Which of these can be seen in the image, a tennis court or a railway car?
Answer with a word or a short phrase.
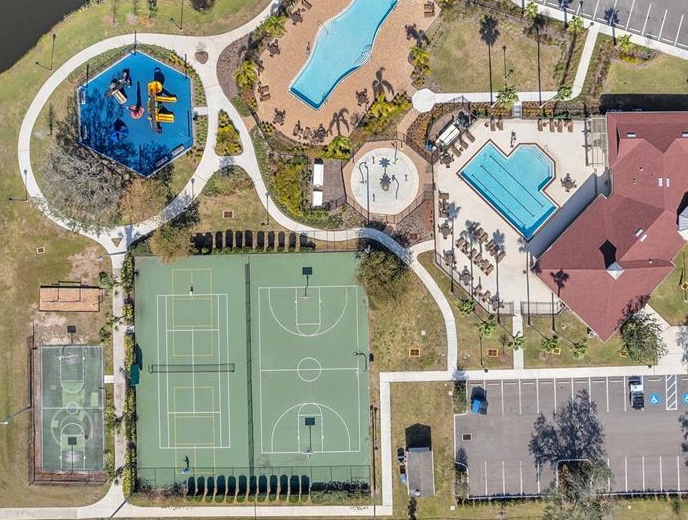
tennis court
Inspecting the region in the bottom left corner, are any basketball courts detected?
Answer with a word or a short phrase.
Yes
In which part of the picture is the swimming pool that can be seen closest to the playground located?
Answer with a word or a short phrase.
top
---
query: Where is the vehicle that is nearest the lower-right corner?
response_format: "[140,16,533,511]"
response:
[628,382,645,412]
